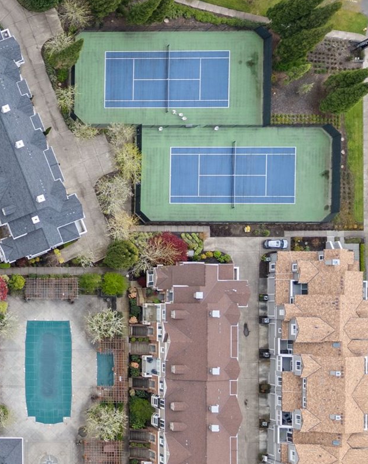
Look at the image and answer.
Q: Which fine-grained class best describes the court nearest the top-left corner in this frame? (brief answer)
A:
tennis court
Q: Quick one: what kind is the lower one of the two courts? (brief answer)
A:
tennis court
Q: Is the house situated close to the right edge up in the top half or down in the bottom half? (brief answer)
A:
bottom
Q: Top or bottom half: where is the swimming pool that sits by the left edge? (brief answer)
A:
bottom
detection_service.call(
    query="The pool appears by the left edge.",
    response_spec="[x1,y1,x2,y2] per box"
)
[0,295,127,464]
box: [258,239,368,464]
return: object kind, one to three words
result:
house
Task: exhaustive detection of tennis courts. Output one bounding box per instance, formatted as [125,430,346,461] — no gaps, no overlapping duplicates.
[75,25,272,126]
[141,122,342,222]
